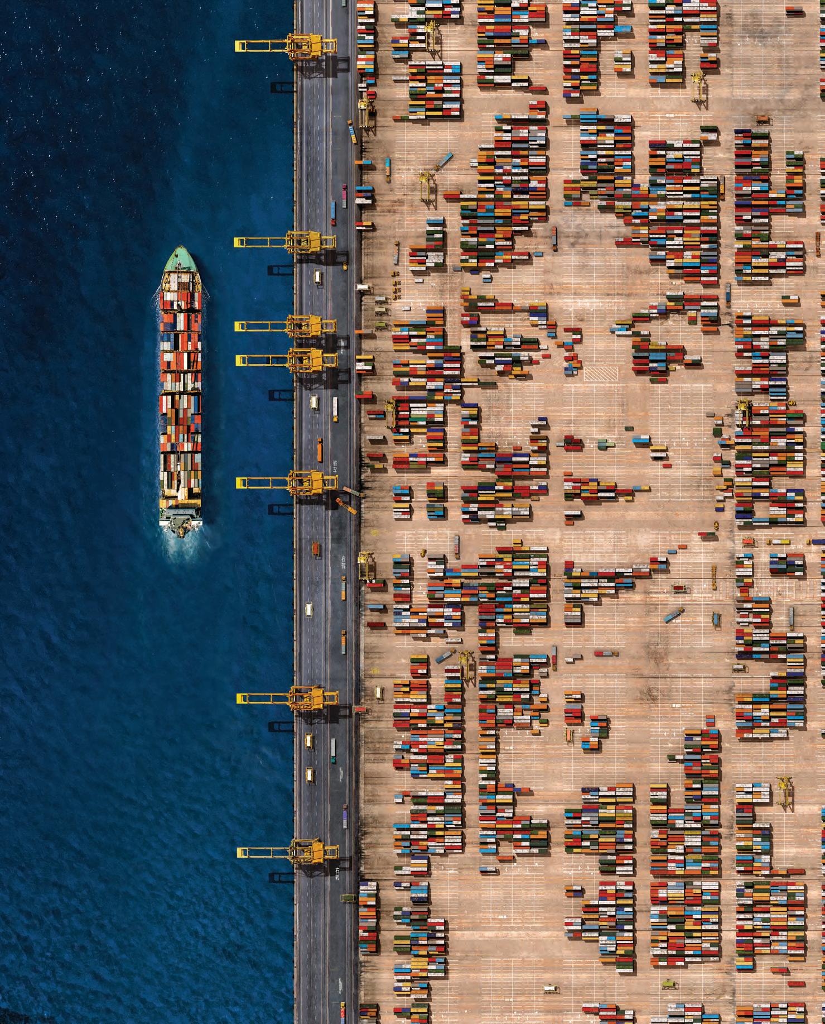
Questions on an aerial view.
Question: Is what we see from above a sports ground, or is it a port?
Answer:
port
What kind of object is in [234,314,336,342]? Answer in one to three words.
container crane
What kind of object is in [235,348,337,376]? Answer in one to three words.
container crane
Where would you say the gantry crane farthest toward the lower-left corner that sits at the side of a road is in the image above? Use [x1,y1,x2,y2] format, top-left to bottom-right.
[236,837,338,865]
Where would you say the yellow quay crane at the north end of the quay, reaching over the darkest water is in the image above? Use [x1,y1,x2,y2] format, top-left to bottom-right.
[234,34,337,63]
